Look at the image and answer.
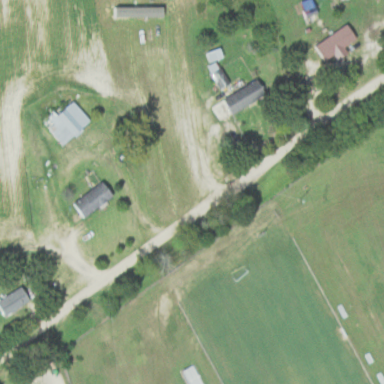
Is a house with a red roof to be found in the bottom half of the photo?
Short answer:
No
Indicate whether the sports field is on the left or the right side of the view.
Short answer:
right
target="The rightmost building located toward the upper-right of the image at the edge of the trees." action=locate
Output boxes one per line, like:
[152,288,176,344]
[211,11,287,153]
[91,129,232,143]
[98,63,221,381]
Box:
[316,25,356,58]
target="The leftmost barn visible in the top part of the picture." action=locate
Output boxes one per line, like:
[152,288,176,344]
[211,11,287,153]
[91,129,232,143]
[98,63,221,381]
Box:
[42,103,88,148]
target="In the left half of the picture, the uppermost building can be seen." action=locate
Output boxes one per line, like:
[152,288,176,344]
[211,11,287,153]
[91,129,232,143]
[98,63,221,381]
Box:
[114,4,163,22]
